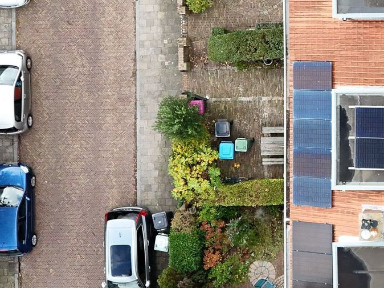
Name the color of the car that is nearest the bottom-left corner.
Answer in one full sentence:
In this view, the car that is nearest the bottom-left corner is blue.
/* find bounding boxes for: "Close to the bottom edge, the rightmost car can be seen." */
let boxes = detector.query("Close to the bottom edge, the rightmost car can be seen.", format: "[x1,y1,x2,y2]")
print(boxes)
[97,204,155,288]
